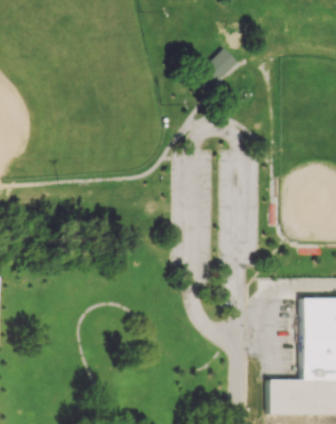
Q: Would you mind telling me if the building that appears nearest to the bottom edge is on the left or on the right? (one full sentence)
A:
The building that appears nearest to the bottom edge appears in the right half of the scene.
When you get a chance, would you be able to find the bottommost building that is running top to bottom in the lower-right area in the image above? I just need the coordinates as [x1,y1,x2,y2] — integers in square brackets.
[296,298,336,382]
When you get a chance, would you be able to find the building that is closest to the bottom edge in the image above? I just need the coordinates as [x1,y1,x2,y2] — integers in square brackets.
[264,379,336,416]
